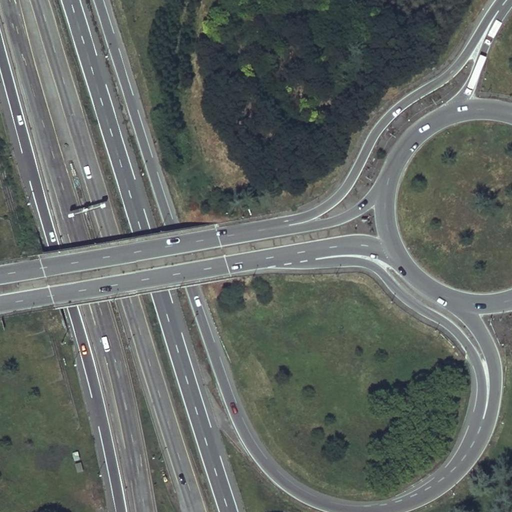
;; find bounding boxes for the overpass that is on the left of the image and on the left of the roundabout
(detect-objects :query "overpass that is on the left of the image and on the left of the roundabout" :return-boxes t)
[36,225,232,331]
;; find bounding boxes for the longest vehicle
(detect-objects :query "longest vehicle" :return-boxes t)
[464,54,487,96]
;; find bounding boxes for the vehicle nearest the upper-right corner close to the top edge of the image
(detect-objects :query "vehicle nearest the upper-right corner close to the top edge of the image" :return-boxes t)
[484,18,504,46]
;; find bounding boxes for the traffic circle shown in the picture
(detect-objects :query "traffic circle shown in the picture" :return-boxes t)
[374,98,512,318]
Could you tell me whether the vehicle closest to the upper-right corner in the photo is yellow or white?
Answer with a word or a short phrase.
white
